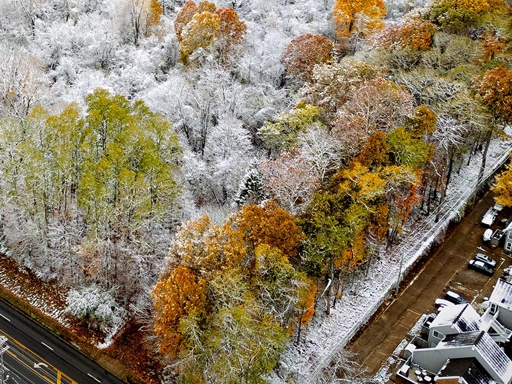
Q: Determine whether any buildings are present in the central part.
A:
No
